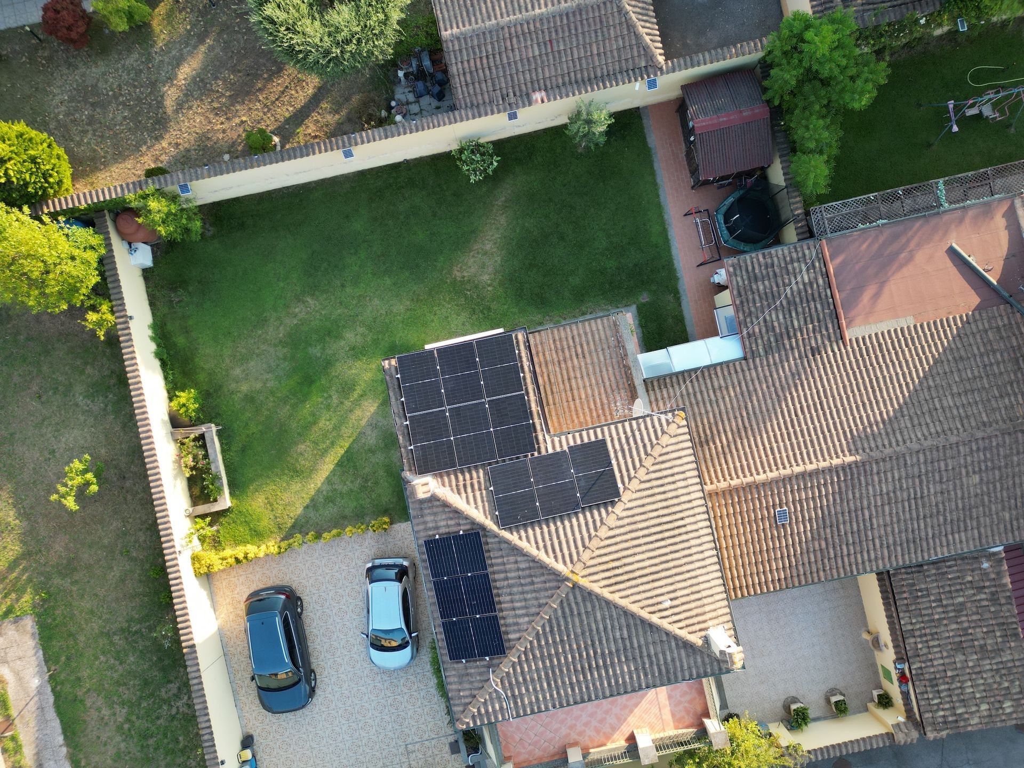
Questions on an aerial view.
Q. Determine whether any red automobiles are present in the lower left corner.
No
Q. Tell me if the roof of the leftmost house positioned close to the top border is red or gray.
gray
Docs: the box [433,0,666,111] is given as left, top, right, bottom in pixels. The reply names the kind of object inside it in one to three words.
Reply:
house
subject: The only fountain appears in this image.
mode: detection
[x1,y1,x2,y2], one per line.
[862,626,883,655]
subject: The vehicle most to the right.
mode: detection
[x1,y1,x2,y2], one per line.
[359,555,419,672]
